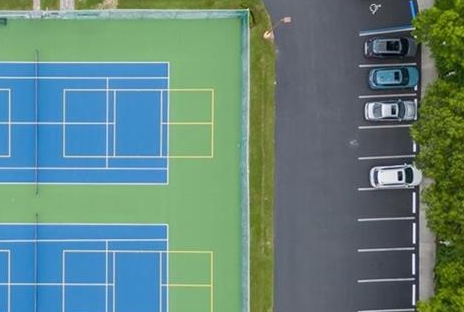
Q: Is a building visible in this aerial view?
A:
No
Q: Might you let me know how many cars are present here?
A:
4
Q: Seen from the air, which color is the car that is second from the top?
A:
blue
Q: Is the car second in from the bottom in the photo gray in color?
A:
Yes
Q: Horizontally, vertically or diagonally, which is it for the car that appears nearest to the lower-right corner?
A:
horizontally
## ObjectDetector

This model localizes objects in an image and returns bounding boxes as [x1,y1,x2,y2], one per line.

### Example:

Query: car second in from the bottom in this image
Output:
[366,97,420,121]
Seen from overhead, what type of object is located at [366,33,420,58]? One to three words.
car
